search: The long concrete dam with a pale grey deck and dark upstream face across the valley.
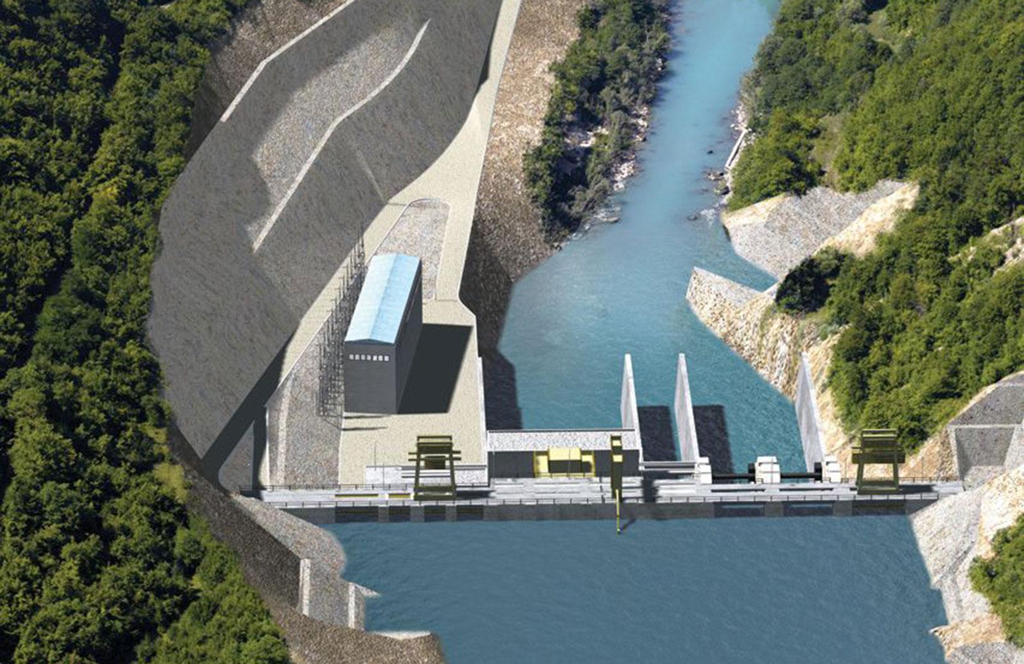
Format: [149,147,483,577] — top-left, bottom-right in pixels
[257,474,956,521]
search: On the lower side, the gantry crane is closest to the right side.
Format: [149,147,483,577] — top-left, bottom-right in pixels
[854,434,909,495]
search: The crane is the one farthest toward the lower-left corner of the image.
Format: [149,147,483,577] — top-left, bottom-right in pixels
[408,436,460,499]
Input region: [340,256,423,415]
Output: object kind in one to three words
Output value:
building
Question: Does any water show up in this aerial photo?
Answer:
Yes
